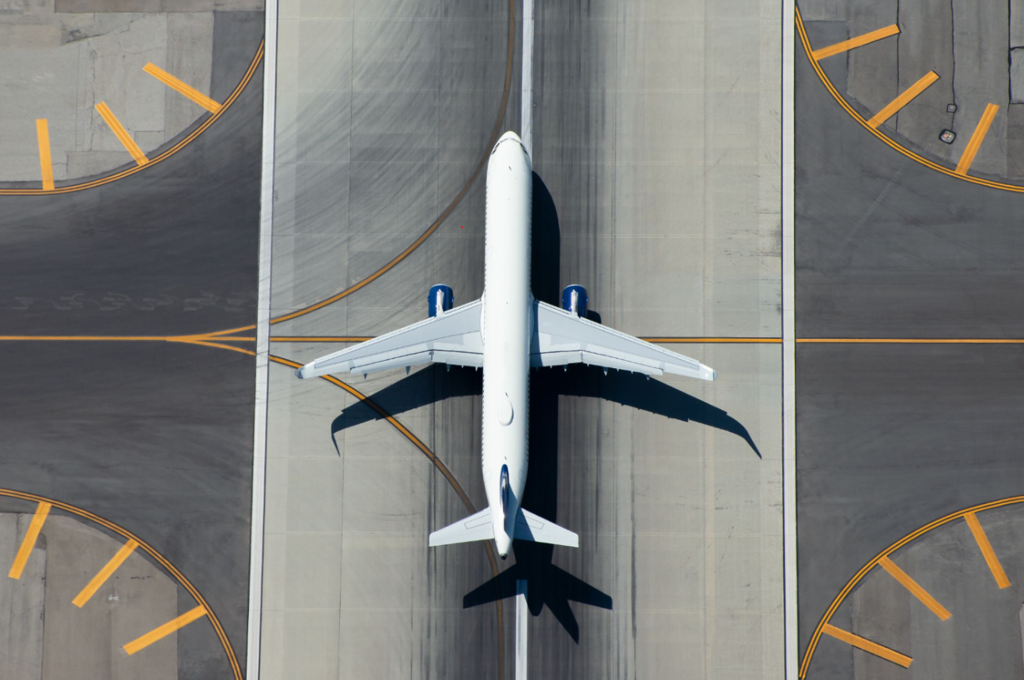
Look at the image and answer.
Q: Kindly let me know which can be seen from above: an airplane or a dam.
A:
airplane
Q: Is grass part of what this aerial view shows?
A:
No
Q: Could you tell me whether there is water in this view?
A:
No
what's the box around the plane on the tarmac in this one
[295,131,717,562]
